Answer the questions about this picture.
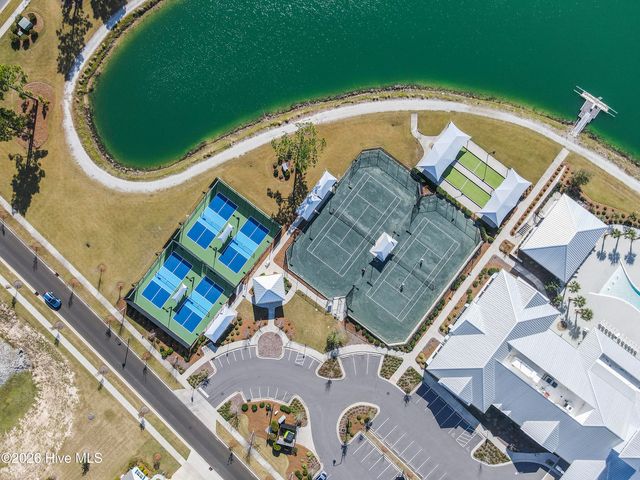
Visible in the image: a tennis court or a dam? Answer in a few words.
tennis court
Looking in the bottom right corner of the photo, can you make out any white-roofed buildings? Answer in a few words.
Yes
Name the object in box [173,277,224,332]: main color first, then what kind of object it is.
blue sports court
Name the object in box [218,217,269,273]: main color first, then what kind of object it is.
blue sports court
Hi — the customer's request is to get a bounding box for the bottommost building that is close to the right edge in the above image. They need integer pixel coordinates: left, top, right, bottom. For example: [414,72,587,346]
[427,269,640,480]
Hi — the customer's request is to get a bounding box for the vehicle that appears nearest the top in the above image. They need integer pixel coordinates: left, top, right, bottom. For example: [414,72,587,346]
[41,292,61,308]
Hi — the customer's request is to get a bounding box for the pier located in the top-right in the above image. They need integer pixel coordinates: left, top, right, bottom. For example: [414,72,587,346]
[569,86,618,140]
